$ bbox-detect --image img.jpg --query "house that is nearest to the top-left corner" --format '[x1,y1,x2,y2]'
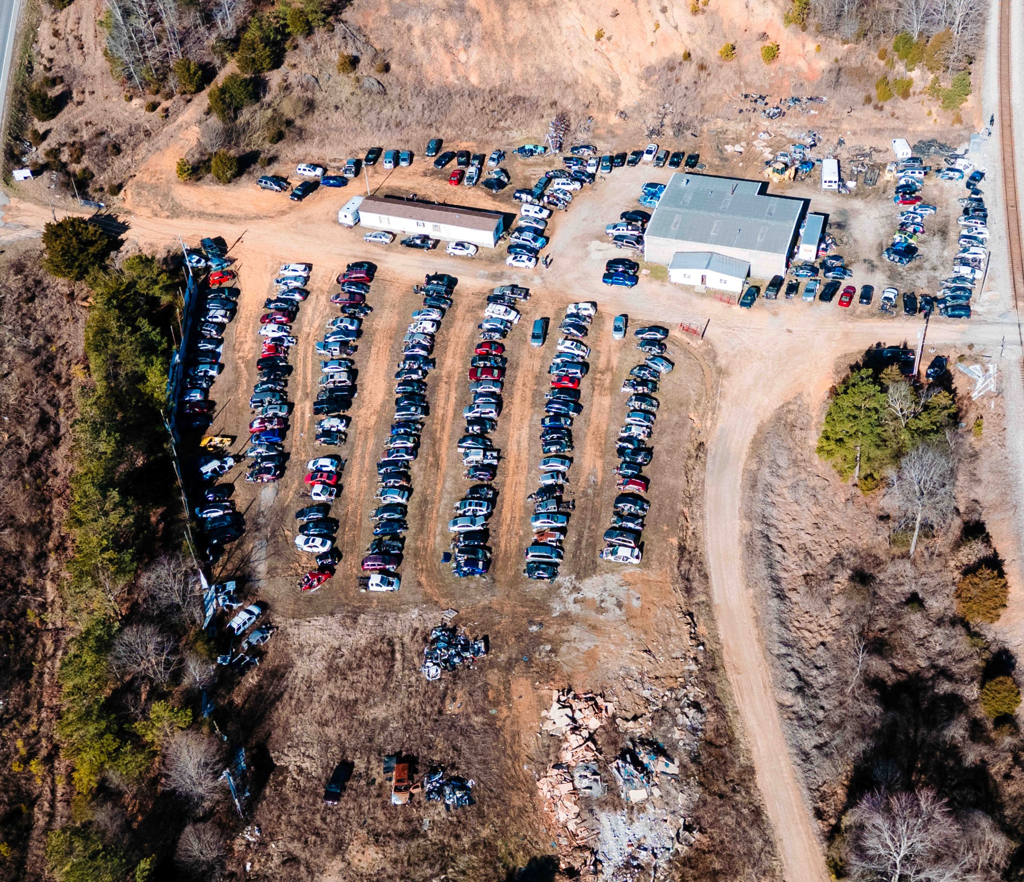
[356,195,503,247]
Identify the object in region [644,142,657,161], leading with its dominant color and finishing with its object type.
white vehicle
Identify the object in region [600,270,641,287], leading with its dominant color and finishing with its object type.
blue vehicle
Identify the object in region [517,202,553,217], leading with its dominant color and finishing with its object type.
white vehicle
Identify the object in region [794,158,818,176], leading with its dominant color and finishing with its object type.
blue car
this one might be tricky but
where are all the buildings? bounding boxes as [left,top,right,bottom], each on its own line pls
[643,173,800,276]
[356,195,503,247]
